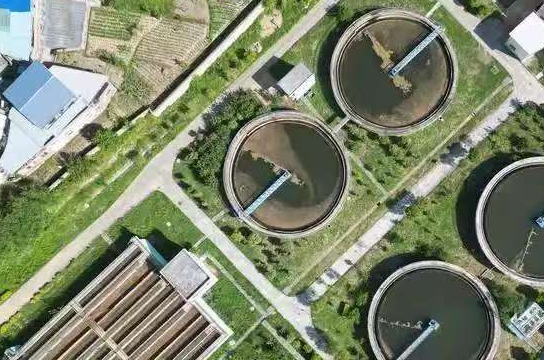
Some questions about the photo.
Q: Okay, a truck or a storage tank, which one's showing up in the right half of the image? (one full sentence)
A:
What appears in the right half of the image is a storage tank.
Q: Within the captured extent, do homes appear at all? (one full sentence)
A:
Yes, the photo shows a home.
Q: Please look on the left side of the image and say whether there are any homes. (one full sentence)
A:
Yes, a home can be seen on the left side of the image.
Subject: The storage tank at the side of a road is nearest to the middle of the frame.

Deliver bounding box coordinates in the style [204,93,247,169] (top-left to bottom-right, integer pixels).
[223,110,351,238]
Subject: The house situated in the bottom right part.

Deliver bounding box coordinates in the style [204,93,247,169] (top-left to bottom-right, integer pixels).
[504,301,544,337]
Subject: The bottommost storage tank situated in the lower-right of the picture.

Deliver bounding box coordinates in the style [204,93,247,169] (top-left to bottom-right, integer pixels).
[367,259,501,360]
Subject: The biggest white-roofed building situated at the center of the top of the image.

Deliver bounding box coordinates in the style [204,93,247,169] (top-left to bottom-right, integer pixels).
[278,63,313,103]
